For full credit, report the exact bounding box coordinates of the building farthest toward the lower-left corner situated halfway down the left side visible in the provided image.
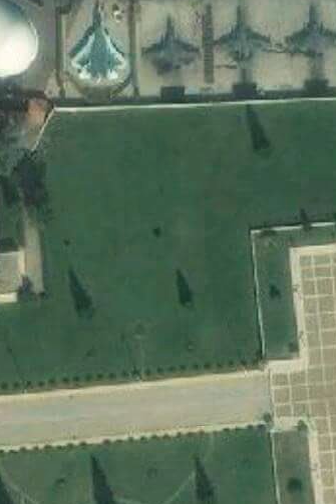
[0,251,24,302]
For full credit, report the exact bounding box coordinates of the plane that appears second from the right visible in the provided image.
[215,6,272,62]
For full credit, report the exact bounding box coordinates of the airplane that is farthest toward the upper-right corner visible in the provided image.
[287,7,336,59]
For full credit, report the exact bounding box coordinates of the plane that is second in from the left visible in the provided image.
[143,16,200,75]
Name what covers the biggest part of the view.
grass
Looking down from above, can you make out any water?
No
